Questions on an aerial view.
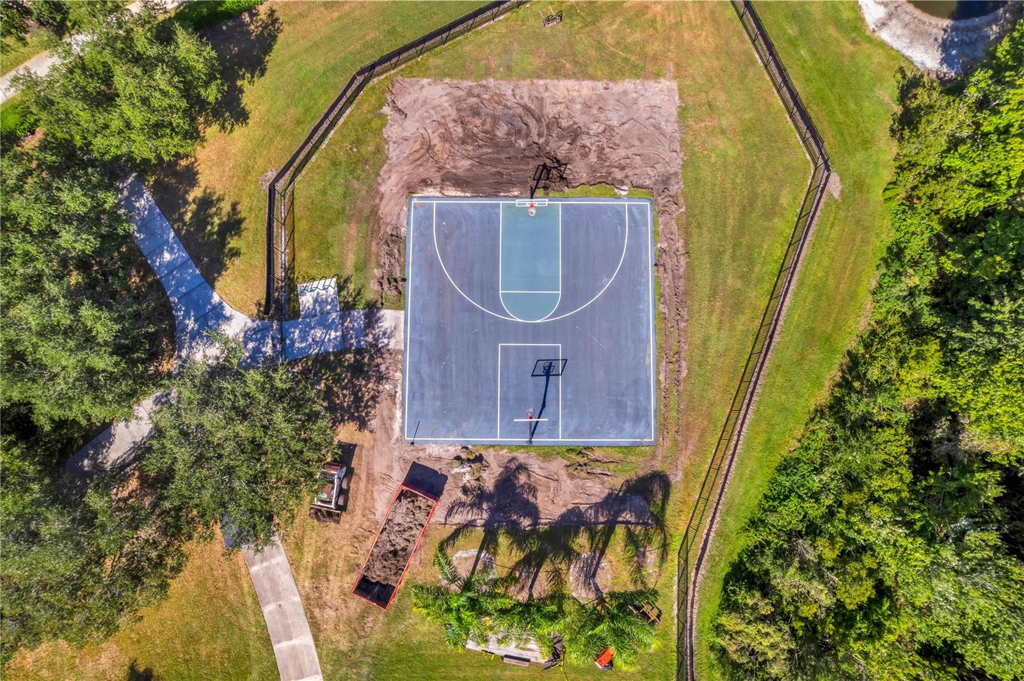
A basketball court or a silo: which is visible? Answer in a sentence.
The image shows a basketball court.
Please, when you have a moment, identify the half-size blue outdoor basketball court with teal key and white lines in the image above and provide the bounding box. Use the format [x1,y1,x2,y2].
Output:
[402,197,656,445]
